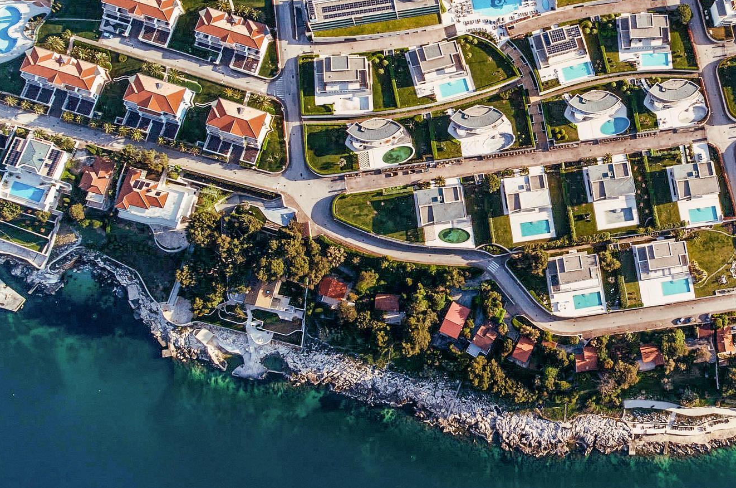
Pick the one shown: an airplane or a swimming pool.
swimming pool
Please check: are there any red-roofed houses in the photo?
Yes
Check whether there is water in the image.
Yes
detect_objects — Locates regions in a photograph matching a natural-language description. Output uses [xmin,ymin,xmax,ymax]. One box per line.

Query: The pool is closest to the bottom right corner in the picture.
[660,273,690,293]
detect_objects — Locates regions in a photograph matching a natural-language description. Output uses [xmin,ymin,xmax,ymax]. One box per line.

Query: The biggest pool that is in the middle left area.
[8,179,46,205]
